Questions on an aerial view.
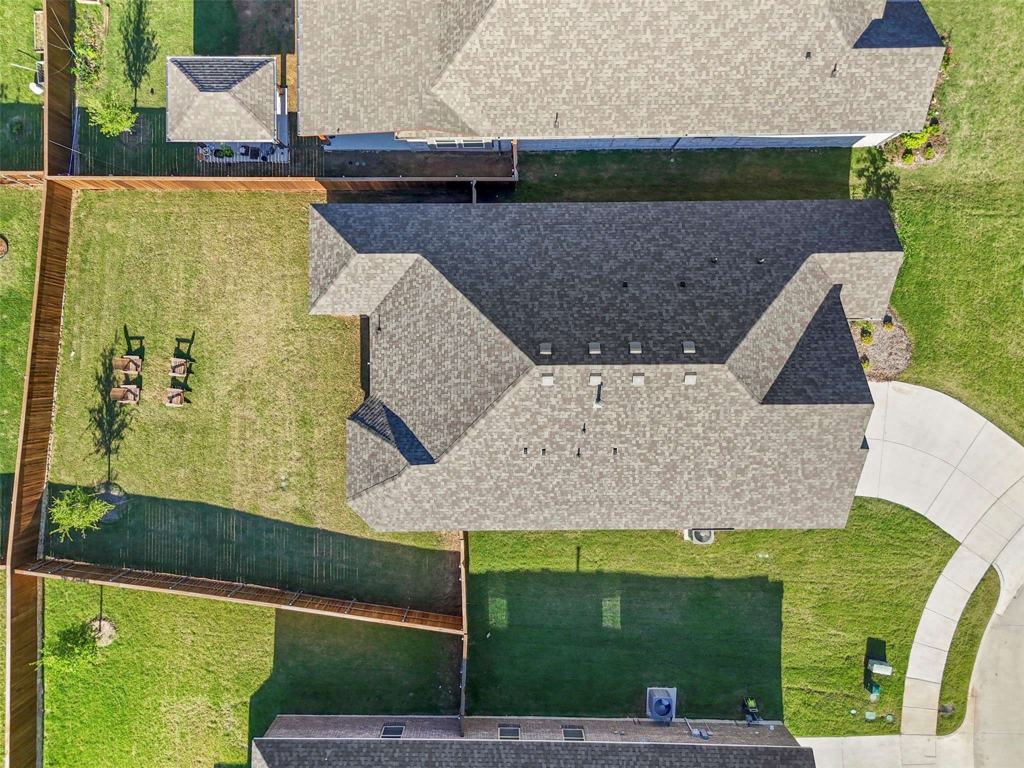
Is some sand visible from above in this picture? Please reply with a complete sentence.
No, the picture contains no sand.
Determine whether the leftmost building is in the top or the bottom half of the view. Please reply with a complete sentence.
It is in the top half that the leftmost building appears.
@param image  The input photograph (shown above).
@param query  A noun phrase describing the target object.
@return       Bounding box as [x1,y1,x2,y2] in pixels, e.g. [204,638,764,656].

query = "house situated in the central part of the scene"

[308,200,902,530]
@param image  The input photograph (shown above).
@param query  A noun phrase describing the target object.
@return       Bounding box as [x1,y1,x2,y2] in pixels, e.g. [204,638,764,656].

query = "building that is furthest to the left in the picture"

[166,56,288,150]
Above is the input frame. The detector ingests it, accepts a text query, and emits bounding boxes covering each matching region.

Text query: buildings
[166,56,288,150]
[250,714,813,768]
[294,0,938,149]
[308,200,902,530]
